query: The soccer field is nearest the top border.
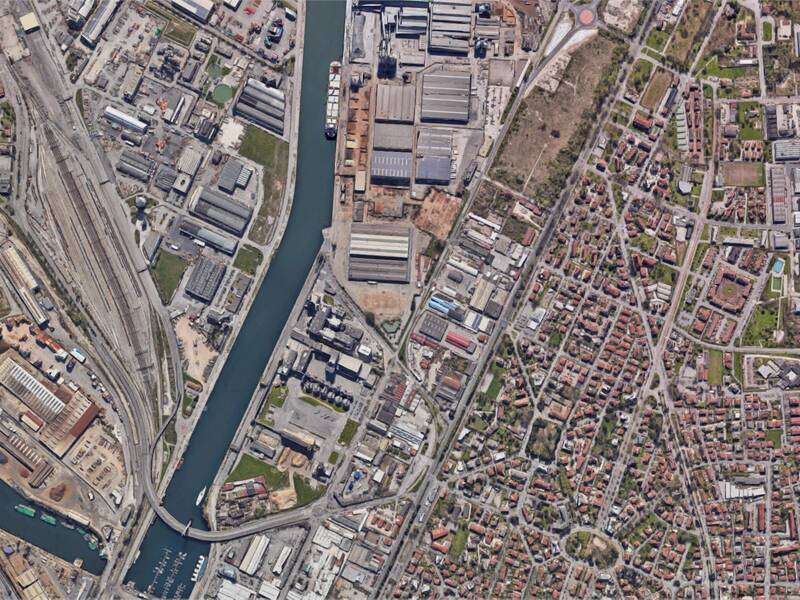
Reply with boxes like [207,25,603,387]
[641,66,673,109]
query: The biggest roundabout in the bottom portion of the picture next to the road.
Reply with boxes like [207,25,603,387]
[561,526,623,573]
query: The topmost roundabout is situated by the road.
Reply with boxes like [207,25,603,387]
[560,0,635,51]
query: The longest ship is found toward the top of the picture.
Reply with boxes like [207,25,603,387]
[324,61,341,138]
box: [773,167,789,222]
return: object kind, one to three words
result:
building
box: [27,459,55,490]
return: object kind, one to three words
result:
building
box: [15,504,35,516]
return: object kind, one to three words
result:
ship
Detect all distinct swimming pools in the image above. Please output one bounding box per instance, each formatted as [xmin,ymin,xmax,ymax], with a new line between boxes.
[772,257,786,277]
